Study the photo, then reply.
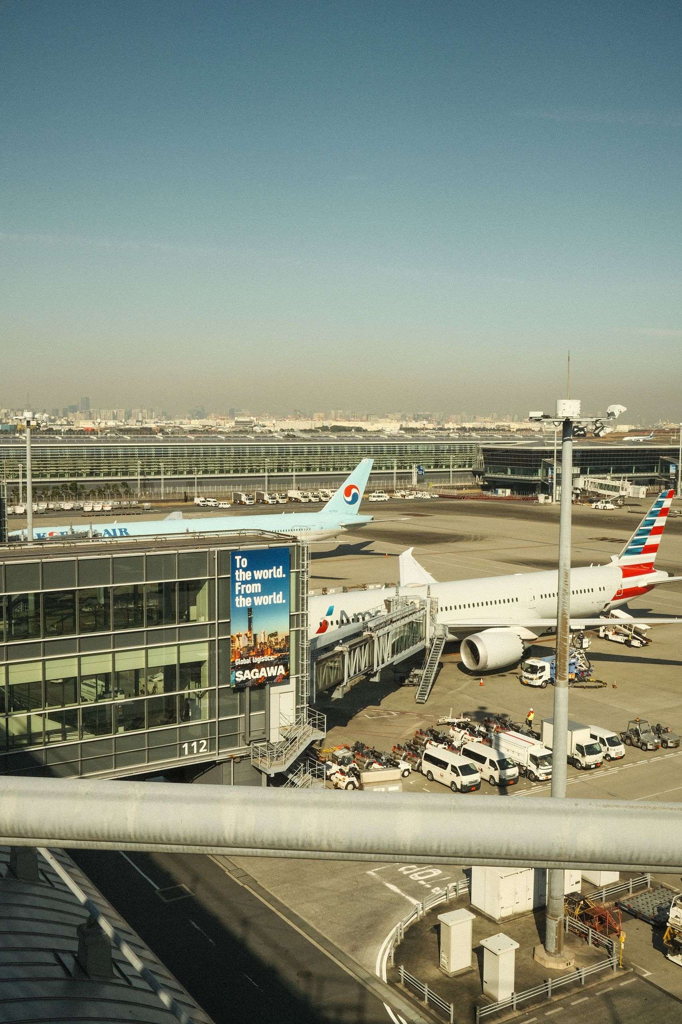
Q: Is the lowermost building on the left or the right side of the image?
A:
left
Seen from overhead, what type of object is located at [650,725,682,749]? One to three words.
work vehicle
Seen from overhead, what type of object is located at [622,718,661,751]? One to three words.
work vehicle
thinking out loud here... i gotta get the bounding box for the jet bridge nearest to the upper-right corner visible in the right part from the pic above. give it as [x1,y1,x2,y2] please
[570,475,642,507]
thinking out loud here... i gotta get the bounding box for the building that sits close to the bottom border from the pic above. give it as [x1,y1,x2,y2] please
[0,852,216,1024]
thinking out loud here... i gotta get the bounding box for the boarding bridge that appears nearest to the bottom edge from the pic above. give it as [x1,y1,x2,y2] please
[299,581,447,708]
